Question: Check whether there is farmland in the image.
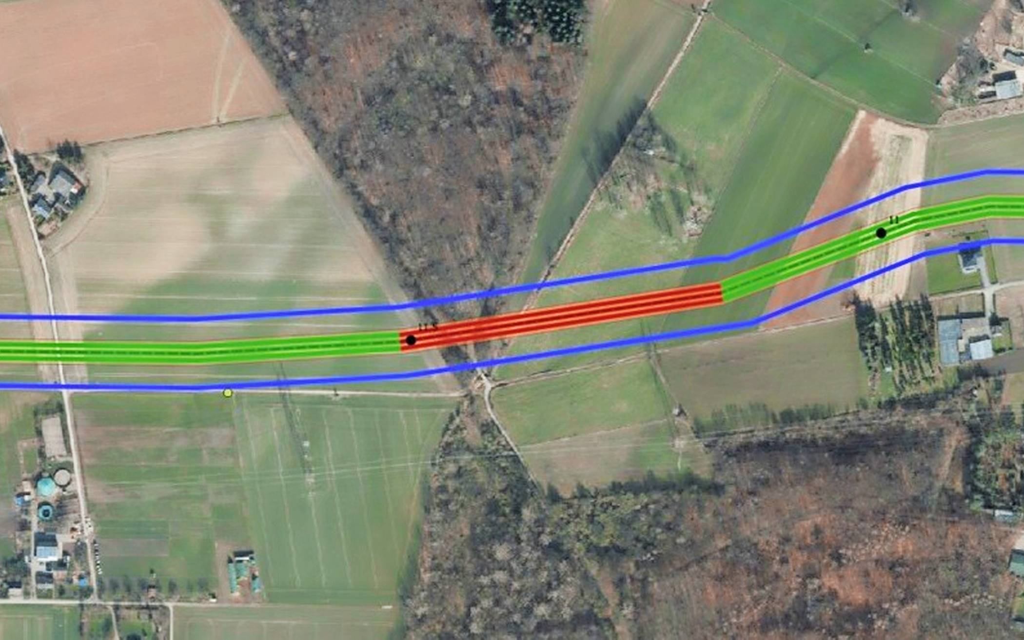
Yes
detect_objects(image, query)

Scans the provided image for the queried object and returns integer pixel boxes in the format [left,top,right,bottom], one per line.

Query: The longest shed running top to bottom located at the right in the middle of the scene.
[939,319,962,365]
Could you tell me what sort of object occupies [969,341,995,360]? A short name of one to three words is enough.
shed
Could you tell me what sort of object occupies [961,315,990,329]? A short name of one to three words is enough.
barn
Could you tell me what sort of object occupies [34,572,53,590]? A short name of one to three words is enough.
house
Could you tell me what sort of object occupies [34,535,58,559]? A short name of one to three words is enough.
barn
